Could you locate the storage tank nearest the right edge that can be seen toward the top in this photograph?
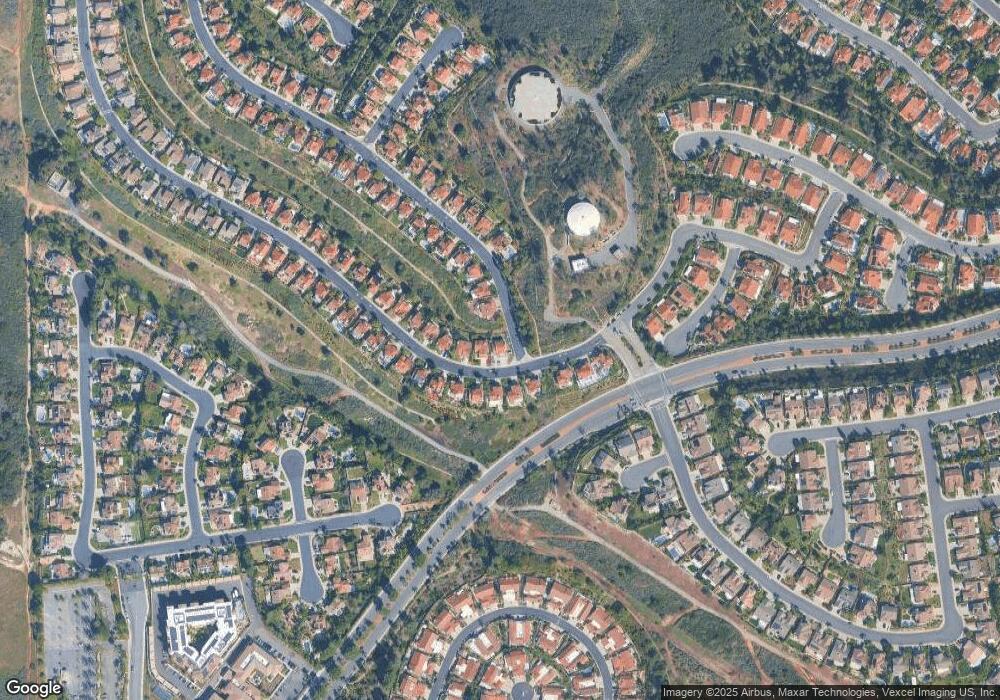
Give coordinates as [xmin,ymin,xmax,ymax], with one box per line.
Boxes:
[567,202,602,235]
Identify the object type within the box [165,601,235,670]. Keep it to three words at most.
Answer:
building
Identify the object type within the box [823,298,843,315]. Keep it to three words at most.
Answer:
swimming pool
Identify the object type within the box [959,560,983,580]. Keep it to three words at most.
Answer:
house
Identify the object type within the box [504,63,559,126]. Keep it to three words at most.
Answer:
storage tank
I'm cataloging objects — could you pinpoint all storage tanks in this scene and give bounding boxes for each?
[504,63,559,126]
[567,202,602,235]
